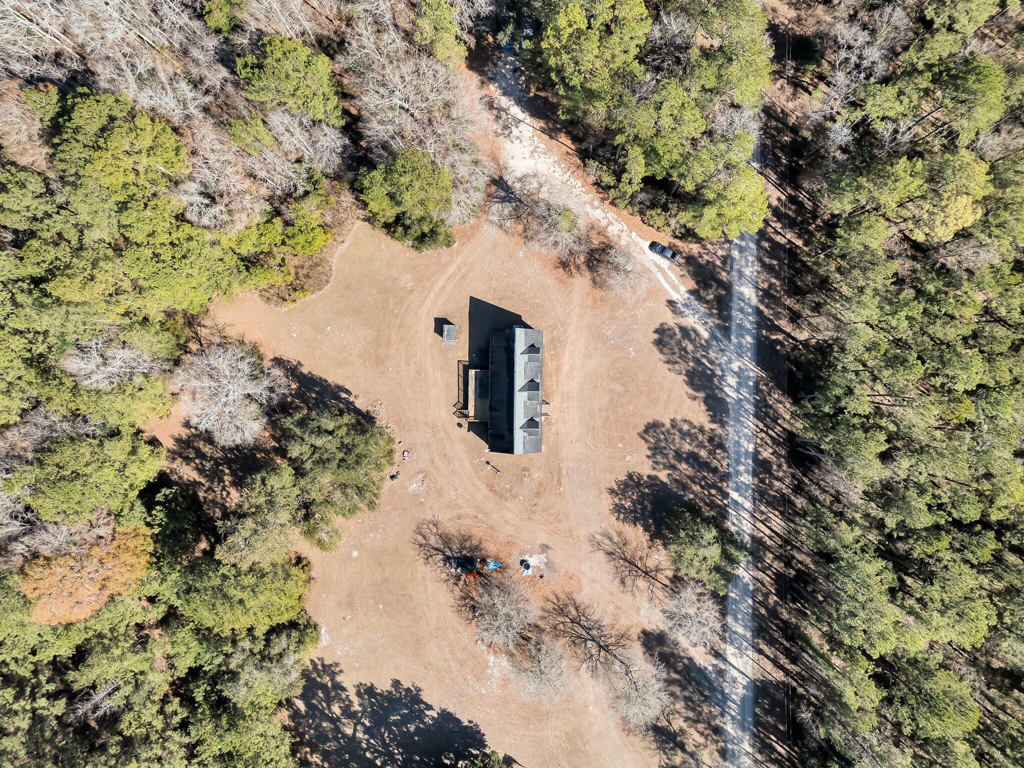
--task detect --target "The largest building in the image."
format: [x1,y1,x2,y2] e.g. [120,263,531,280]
[458,327,553,454]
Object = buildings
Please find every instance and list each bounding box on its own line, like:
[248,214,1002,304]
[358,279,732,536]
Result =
[458,327,553,454]
[442,324,455,341]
